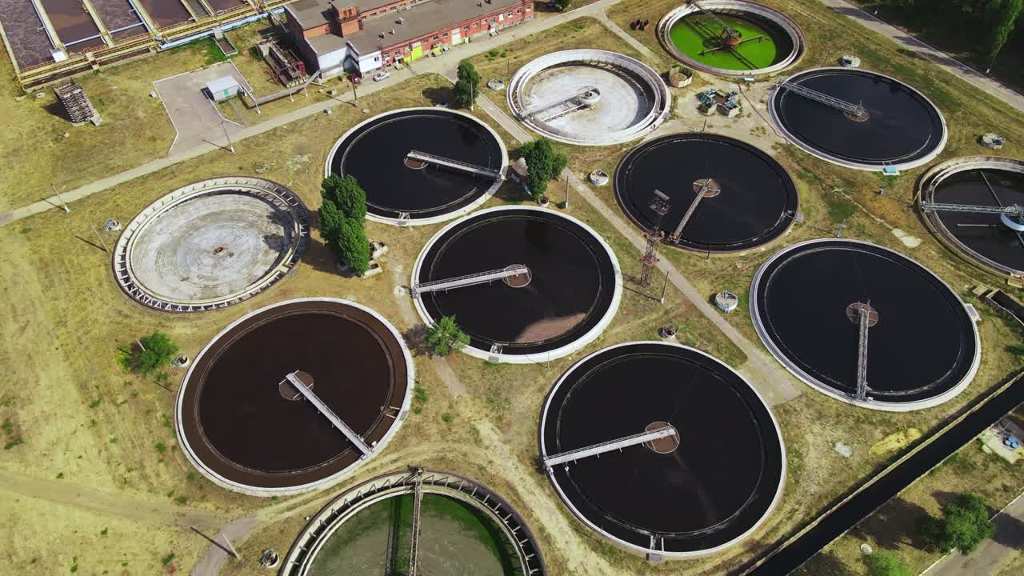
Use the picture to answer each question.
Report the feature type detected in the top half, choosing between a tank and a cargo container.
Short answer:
tank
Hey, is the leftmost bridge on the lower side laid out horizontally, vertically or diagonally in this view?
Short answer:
diagonally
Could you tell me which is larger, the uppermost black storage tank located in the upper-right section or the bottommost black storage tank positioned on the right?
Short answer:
the bottommost black storage tank positioned on the right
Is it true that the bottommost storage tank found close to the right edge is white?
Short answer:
No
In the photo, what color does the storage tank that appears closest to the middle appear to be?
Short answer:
black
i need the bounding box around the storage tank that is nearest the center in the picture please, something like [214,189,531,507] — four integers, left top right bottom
[412,207,622,366]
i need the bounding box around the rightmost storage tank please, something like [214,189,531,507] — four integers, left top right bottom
[917,155,1024,293]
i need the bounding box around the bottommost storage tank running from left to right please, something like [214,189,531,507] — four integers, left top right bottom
[278,466,548,576]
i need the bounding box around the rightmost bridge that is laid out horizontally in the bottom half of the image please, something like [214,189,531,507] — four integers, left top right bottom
[544,427,676,469]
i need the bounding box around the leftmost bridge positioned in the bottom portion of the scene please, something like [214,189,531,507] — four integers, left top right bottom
[284,370,375,459]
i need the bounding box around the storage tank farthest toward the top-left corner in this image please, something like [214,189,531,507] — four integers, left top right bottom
[113,176,310,314]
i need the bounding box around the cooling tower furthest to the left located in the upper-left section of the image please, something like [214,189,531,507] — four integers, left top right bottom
[56,81,102,126]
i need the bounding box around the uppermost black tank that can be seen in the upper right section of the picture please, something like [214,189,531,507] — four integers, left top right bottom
[768,68,947,177]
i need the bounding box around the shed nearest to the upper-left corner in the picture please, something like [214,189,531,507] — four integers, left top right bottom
[209,78,237,101]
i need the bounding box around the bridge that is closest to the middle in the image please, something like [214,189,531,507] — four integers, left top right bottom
[415,267,527,295]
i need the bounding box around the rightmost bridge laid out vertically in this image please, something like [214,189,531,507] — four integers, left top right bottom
[853,298,872,402]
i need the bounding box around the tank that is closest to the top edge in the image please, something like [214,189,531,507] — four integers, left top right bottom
[657,0,805,81]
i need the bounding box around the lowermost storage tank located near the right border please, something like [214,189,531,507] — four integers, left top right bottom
[749,240,982,414]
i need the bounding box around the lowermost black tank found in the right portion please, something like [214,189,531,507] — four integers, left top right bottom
[541,342,784,568]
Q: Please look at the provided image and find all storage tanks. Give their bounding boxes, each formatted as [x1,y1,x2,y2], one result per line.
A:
[749,240,982,414]
[917,155,1024,293]
[278,466,548,576]
[507,50,672,149]
[113,176,310,314]
[541,342,784,568]
[412,207,622,366]
[657,0,805,81]
[614,131,806,256]
[768,68,947,177]
[325,109,508,229]
[176,299,415,499]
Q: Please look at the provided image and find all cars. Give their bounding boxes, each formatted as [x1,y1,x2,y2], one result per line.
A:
[373,70,391,81]
[348,73,361,84]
